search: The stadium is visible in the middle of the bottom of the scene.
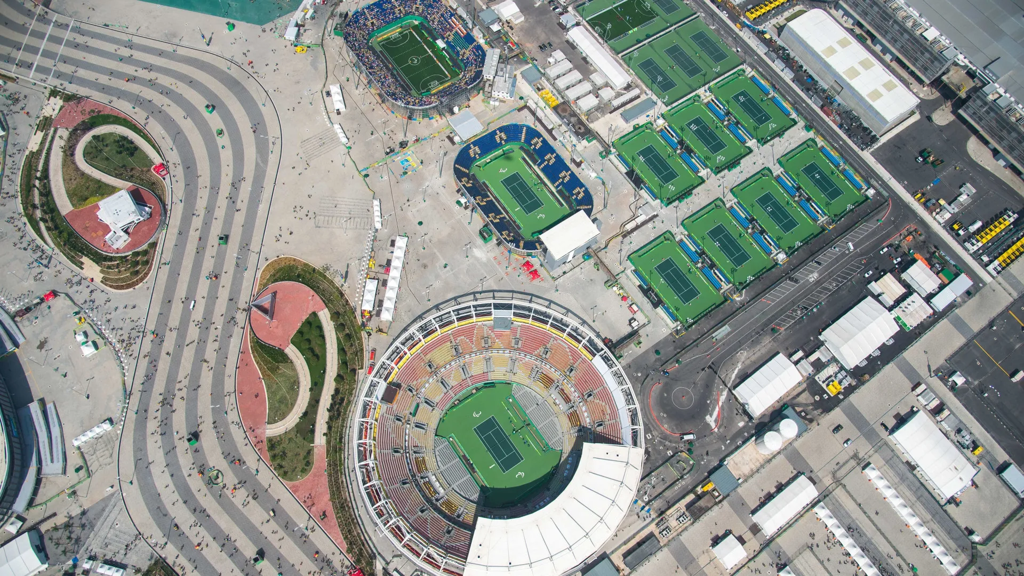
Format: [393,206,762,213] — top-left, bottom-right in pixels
[355,300,645,576]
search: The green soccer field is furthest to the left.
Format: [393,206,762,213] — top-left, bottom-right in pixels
[378,24,459,93]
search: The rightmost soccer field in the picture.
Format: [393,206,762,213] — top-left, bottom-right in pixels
[586,0,658,42]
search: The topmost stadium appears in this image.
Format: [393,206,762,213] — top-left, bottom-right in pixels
[340,0,491,125]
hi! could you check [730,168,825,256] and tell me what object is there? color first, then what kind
green tennis court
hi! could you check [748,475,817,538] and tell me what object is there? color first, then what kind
white tent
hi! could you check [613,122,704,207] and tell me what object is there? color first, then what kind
green tennis court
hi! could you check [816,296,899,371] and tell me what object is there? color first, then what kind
white tent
